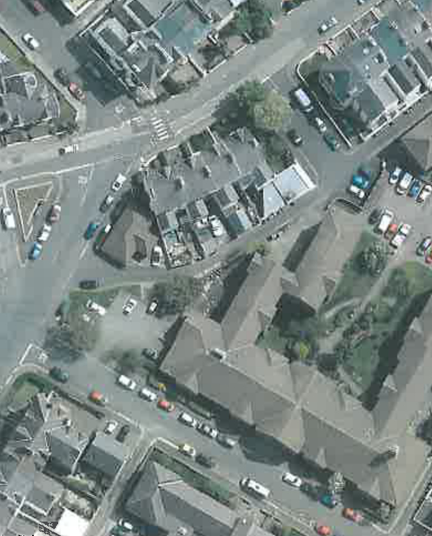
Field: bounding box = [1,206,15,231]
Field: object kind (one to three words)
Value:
vehicle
